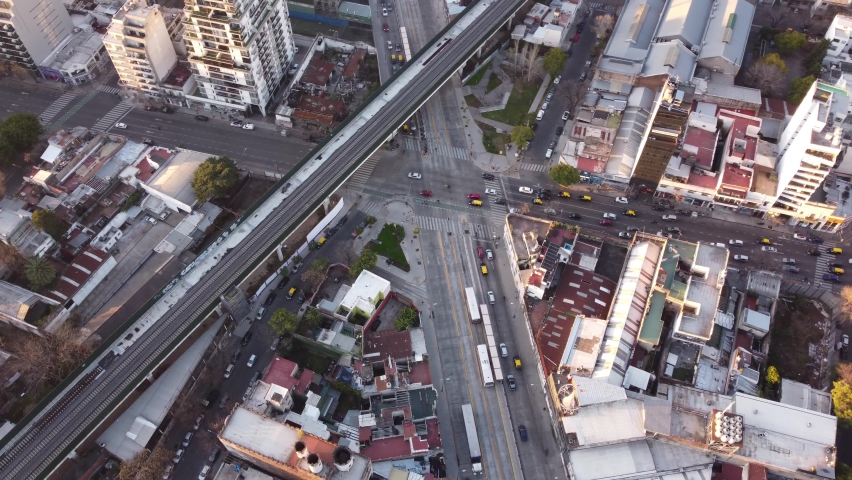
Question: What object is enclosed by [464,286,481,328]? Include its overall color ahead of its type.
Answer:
white vehicle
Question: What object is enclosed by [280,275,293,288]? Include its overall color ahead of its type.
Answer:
black vehicle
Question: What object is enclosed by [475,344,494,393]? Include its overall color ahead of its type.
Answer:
white vehicle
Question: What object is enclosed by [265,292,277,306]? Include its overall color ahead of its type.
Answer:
black vehicle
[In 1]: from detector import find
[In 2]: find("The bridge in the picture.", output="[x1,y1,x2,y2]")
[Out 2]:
[0,0,530,480]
